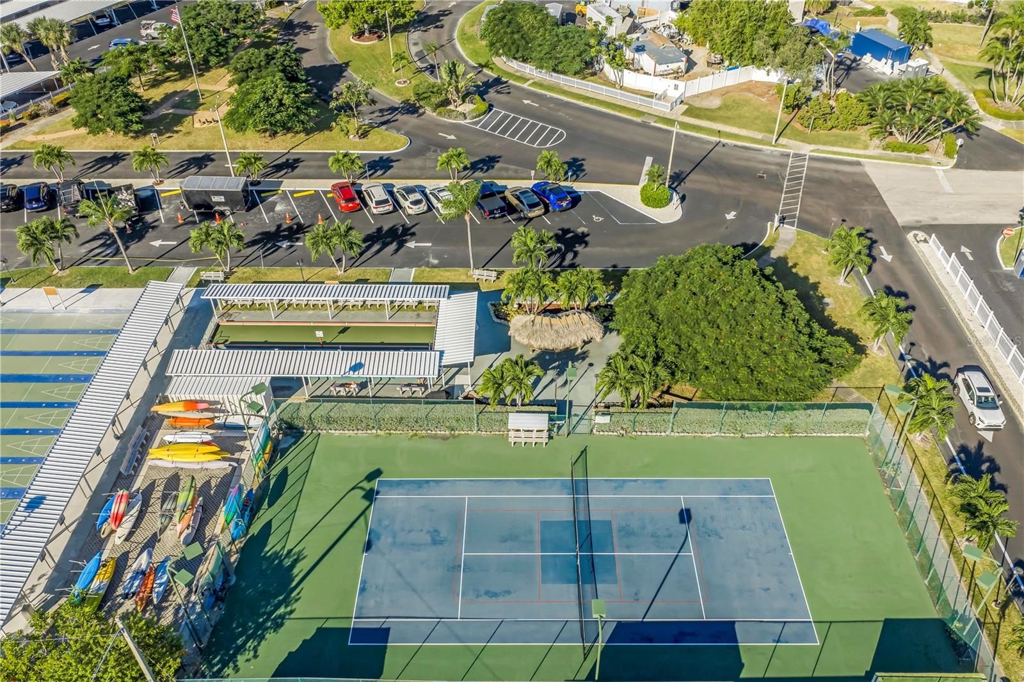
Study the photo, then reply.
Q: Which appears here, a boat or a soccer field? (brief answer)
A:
boat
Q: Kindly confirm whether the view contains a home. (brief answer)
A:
Yes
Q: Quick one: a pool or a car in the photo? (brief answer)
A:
car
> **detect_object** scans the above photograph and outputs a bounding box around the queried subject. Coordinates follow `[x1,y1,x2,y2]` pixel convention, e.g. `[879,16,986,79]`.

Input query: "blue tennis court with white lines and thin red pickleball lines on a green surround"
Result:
[199,433,986,682]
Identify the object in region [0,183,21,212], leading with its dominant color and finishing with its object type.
black car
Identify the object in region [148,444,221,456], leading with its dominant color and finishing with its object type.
yellow boat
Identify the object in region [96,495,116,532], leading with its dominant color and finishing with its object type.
blue boat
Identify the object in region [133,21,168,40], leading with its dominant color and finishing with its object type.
white vehicle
